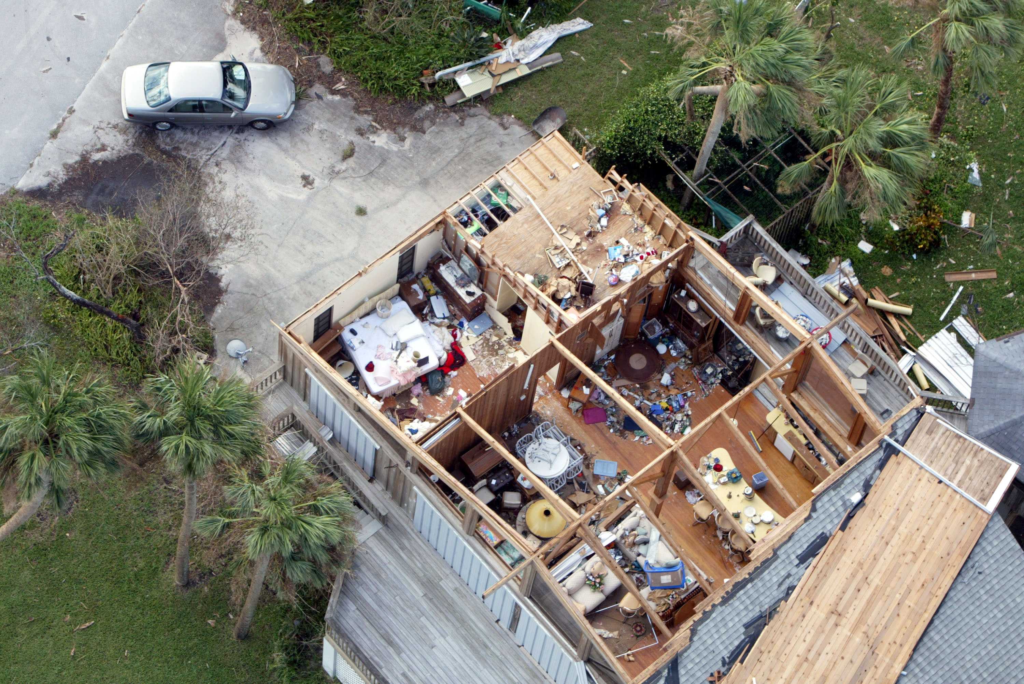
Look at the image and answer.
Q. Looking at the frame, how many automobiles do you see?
1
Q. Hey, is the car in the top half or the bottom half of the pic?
top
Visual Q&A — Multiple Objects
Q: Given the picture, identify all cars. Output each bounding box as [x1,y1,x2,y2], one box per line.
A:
[124,55,299,133]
